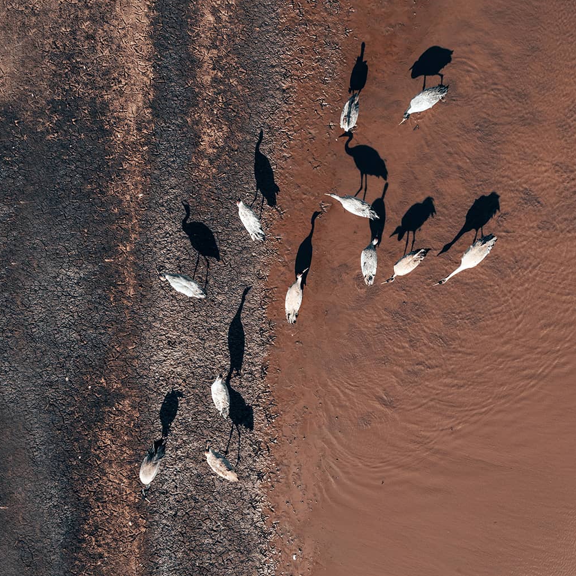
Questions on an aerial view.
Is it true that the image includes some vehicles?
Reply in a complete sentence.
No, I can't see a single vehicle in this photo.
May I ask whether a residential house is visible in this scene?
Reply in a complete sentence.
No, the scene contains no residential house.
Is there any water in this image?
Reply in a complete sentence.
Yes, water can be seen from above here.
